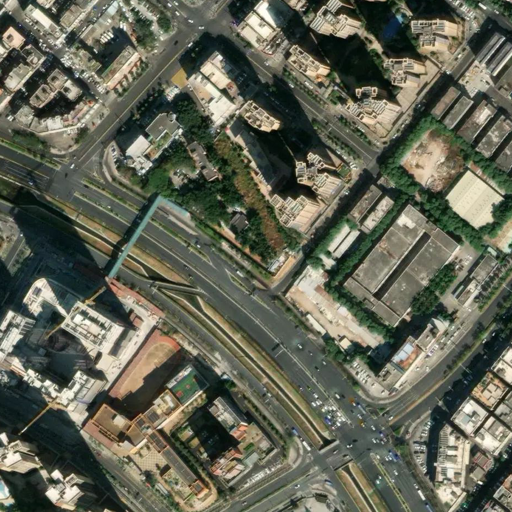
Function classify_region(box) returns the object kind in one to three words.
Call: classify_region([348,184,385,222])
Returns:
building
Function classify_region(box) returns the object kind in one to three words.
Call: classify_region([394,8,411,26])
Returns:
swimming pool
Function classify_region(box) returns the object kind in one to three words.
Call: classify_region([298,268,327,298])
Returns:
shed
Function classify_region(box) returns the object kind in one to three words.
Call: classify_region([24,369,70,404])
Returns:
building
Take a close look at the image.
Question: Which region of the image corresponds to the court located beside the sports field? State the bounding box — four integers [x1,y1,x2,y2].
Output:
[168,365,212,405]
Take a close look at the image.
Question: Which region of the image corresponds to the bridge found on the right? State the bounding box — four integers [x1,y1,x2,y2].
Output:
[317,440,354,472]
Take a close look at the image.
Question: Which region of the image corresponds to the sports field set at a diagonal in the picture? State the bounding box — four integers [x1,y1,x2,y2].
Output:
[119,342,176,402]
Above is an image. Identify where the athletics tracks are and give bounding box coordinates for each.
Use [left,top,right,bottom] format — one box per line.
[108,328,180,405]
